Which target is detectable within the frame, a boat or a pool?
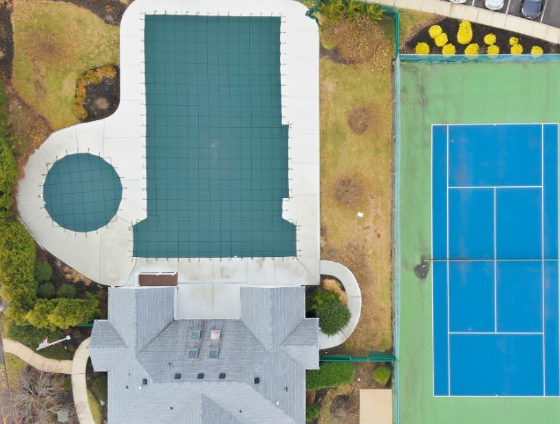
pool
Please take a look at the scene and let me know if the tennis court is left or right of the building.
to the right of it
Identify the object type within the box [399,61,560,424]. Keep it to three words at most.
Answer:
tennis court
